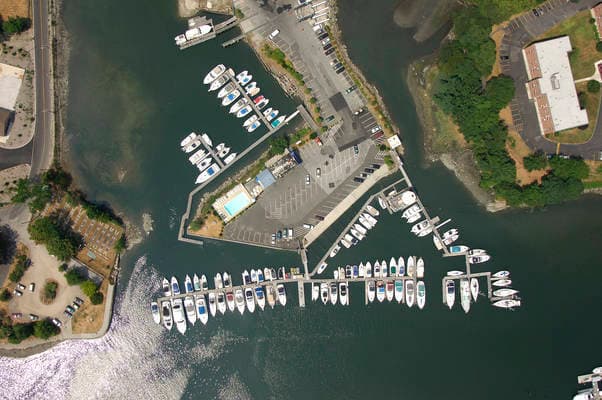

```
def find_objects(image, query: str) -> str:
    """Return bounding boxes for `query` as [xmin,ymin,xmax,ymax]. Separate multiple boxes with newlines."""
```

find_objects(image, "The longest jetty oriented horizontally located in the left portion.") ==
[158,266,305,324]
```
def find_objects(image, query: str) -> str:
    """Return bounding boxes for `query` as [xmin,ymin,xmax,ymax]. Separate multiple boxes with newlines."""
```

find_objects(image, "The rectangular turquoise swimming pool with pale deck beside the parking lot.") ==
[213,184,255,224]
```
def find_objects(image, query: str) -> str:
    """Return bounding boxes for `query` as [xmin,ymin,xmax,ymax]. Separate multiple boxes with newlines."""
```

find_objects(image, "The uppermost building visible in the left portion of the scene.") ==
[0,62,29,111]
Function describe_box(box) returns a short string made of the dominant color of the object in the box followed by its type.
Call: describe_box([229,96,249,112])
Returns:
white boat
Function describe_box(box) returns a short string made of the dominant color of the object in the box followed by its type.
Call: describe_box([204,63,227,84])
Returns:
white boat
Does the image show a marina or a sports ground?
marina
